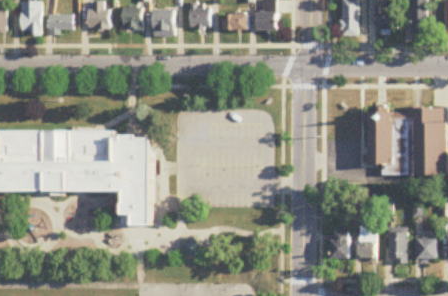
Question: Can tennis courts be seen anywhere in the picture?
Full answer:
No, there is no tennis court in the image.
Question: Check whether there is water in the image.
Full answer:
No, there's no water in this view.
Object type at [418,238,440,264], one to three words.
house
